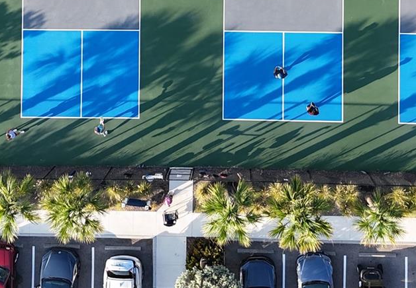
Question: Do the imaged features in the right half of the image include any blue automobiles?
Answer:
Yes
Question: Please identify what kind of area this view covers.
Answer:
sports ground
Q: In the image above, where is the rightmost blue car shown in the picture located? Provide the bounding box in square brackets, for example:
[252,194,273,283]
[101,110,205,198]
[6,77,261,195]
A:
[289,251,331,288]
